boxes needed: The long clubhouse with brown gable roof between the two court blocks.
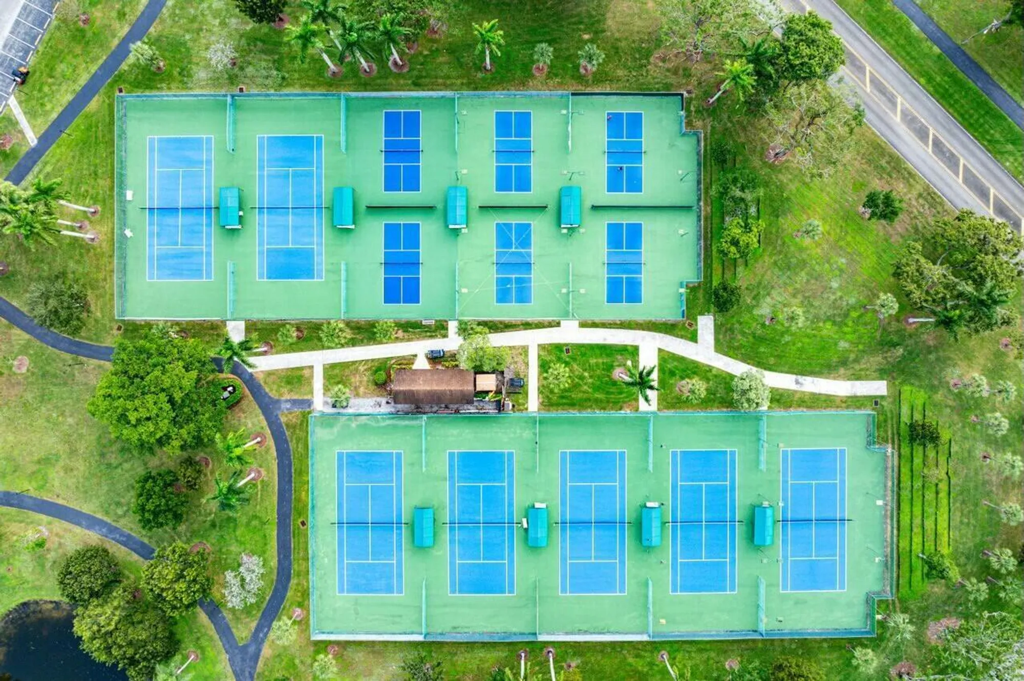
[393,369,474,404]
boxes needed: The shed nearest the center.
[476,374,496,391]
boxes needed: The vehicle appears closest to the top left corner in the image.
[11,66,32,84]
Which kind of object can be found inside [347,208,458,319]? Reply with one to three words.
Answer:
sports court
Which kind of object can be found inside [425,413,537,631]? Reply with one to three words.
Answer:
tennis court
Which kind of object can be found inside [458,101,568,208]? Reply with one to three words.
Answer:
sports court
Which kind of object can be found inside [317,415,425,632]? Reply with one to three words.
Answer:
tennis court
